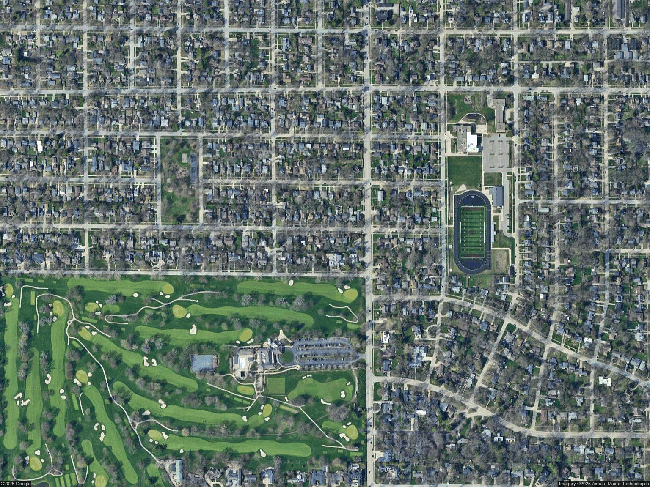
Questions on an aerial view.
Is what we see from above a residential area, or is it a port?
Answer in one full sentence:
It's a residential area.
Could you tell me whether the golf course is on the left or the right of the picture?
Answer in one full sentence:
The golf course appears in the left half of the scene.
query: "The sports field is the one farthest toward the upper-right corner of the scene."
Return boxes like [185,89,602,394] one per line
[449,156,482,185]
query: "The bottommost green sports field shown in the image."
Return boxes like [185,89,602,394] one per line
[460,206,486,258]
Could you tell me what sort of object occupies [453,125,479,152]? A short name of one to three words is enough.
building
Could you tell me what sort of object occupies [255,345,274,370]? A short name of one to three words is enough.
building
